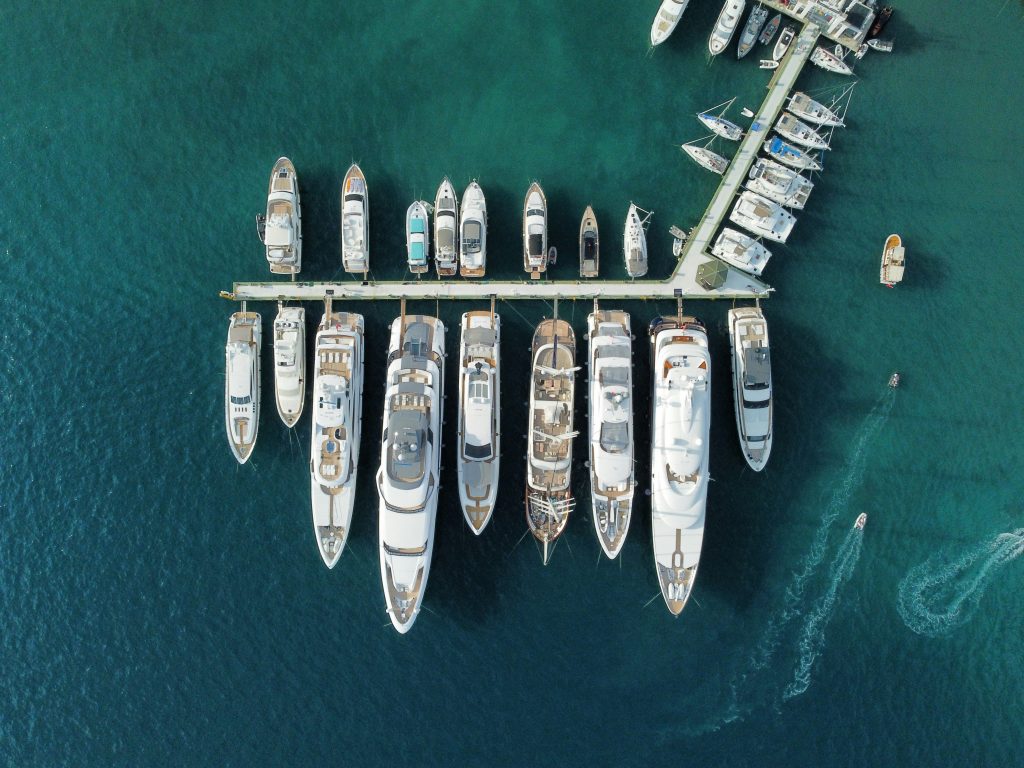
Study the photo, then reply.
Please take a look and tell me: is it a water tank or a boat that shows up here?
boat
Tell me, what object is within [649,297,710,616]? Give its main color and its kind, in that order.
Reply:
white boat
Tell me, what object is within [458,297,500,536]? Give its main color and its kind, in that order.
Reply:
white boat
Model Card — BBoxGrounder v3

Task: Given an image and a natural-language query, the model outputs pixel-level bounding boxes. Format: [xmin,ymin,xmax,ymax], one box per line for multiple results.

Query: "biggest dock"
[233,24,820,300]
